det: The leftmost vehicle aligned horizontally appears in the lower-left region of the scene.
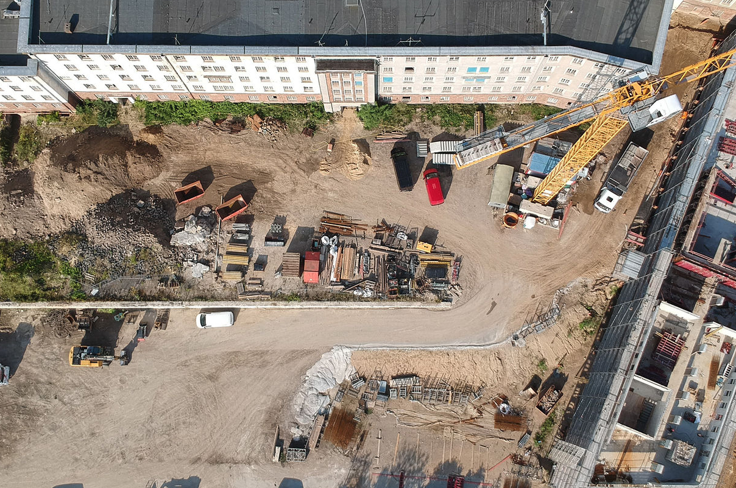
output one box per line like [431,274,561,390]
[67,345,134,366]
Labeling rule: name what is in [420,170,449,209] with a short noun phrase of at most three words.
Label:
van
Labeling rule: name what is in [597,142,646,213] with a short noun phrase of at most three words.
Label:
truck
